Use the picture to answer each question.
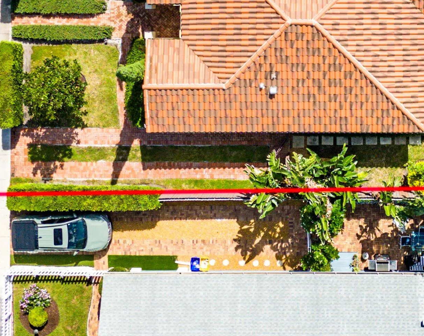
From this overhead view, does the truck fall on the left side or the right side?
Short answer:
left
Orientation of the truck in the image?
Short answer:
from side to side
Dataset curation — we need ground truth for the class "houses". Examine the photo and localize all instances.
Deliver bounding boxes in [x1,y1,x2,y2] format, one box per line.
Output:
[99,269,424,336]
[140,0,424,133]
